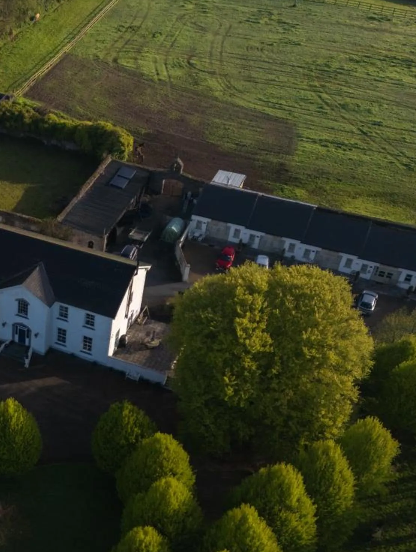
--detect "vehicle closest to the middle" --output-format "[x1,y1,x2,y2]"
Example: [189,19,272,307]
[216,243,237,268]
